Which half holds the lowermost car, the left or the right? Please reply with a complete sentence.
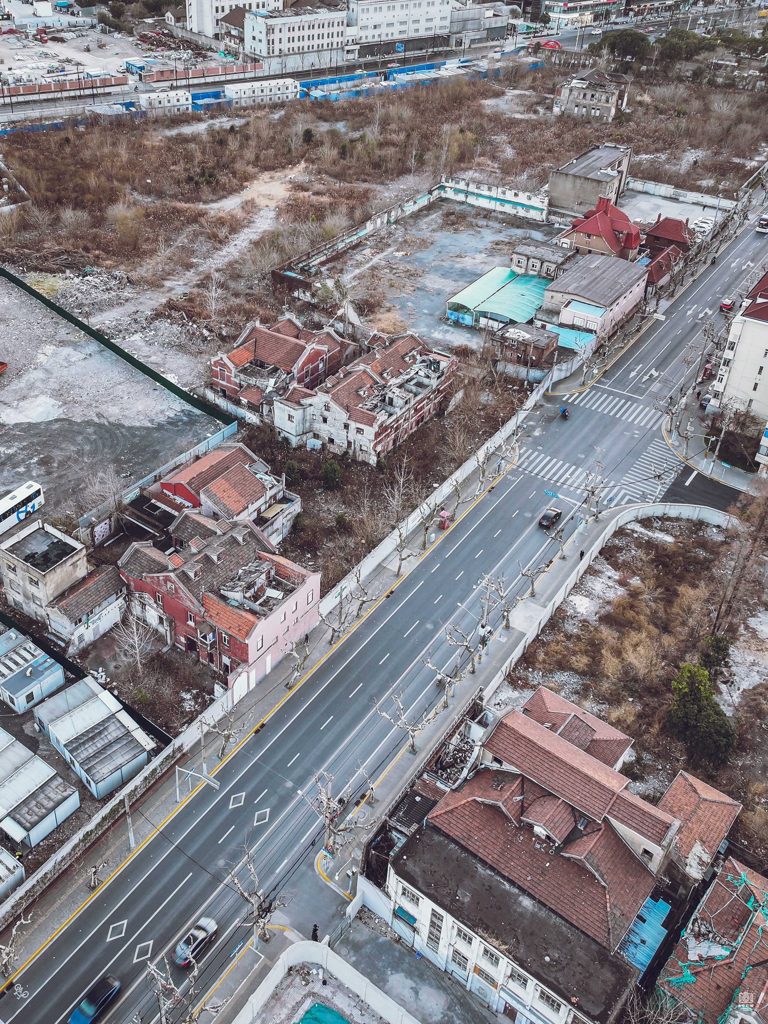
It is on the left.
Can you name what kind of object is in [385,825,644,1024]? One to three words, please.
building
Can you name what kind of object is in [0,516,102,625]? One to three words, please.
house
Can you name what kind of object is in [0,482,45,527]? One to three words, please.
bus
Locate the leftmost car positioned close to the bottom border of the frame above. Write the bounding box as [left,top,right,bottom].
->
[69,973,118,1024]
